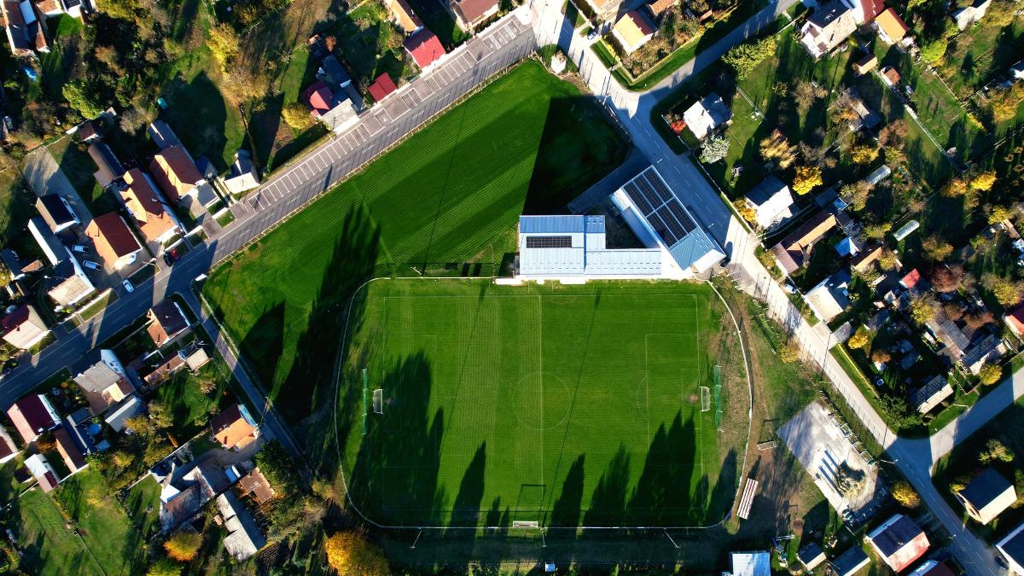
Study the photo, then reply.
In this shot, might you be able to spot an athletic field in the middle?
Yes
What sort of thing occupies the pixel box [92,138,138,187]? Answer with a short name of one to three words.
barn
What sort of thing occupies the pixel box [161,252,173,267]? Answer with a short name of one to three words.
vehicle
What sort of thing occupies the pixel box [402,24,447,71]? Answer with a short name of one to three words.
house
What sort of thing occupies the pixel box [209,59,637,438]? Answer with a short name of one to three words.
sports field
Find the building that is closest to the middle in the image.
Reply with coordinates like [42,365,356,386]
[519,215,662,275]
